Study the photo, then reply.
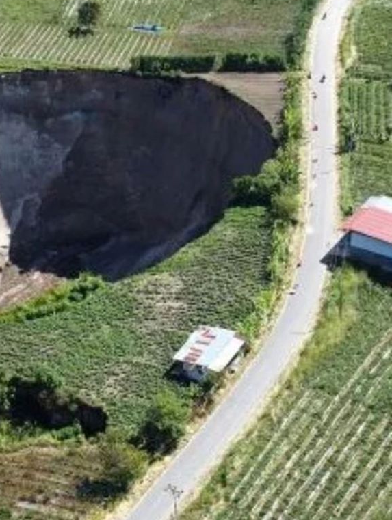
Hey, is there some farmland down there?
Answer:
Yes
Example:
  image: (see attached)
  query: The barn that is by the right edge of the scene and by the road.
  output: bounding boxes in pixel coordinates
[340,195,392,263]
